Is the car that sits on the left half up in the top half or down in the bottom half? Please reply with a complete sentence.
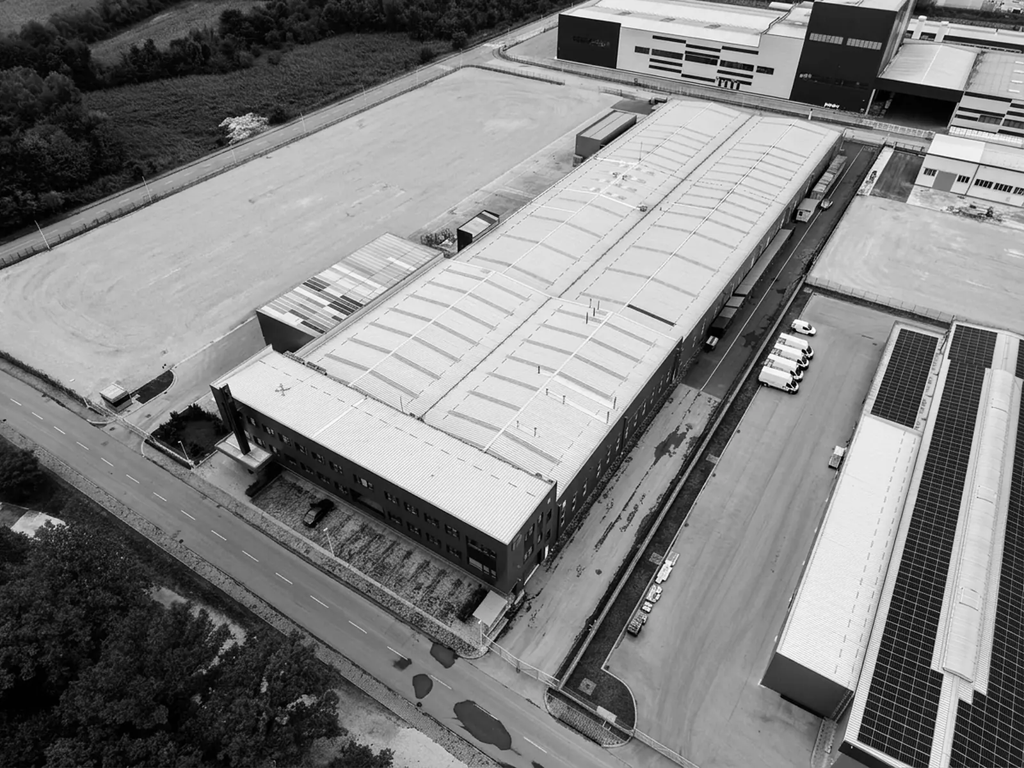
The car that sits on the left half sits in the bottom half of the picture.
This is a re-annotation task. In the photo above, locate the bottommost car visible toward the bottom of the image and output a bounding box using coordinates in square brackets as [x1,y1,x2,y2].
[298,497,333,526]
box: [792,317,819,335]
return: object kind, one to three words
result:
vehicle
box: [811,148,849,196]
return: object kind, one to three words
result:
trailer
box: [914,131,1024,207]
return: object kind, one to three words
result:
building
